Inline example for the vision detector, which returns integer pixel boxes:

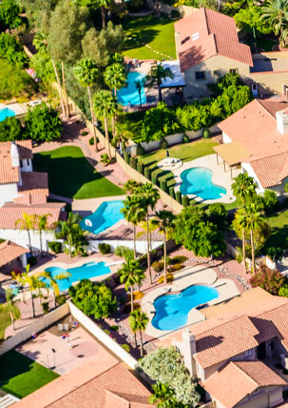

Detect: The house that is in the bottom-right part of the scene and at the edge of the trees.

[177,288,288,408]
